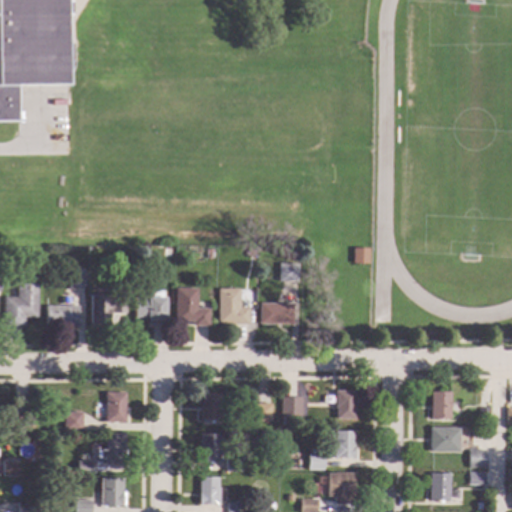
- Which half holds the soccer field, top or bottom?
top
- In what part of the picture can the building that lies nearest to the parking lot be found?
top left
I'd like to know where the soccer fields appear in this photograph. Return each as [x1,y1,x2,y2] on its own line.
[404,1,512,257]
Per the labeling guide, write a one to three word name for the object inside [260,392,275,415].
building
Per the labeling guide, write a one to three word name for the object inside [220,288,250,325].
house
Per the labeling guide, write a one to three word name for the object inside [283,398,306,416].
building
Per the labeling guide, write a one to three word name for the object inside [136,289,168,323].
house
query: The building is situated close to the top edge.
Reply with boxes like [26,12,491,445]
[0,0,75,122]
